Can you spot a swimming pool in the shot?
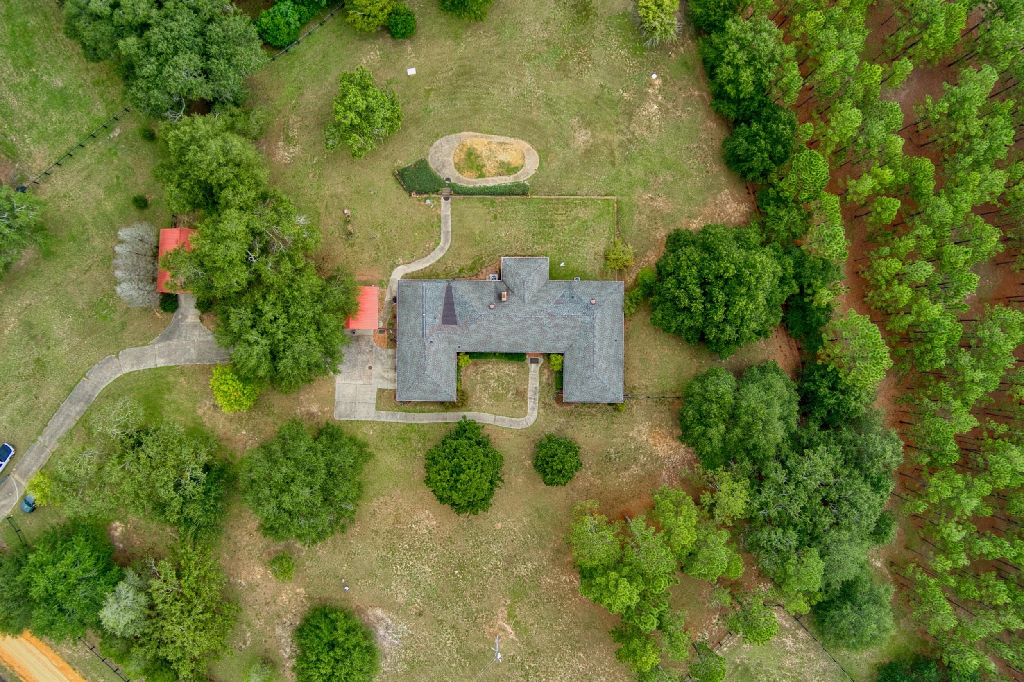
No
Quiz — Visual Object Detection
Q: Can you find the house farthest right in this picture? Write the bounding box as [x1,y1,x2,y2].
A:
[396,257,624,403]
